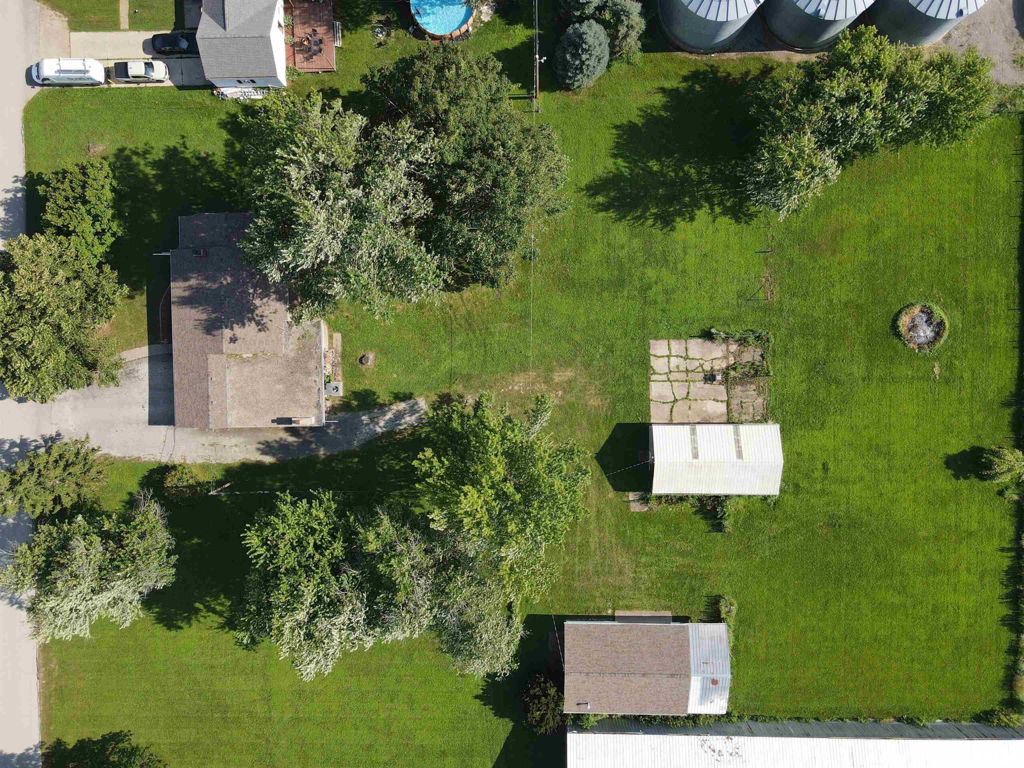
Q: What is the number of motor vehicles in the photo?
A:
3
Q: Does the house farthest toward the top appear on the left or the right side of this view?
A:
left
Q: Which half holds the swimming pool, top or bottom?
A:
top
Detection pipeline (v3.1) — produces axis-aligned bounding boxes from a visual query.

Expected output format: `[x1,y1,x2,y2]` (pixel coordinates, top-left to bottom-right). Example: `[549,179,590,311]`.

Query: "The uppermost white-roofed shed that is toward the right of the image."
[648,424,785,495]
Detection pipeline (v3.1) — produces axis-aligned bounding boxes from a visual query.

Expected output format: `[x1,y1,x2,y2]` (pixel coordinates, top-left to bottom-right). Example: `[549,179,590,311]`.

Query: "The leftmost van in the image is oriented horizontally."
[32,55,103,88]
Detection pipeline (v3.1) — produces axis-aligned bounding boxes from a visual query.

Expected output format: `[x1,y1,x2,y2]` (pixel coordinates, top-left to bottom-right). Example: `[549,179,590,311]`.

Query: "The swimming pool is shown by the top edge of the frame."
[409,0,470,40]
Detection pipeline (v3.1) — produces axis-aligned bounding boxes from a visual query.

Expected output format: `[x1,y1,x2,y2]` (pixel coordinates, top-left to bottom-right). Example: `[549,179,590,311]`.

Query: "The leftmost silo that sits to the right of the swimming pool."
[654,0,762,57]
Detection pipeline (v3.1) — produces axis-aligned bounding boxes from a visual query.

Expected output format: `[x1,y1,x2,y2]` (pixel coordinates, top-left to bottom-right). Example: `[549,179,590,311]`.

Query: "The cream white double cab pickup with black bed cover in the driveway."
[115,56,171,83]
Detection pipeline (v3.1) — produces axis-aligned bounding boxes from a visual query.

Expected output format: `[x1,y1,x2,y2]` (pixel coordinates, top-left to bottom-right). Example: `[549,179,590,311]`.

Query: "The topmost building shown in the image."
[197,0,286,89]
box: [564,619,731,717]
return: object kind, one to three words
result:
building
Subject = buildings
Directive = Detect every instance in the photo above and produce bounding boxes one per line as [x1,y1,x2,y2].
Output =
[648,424,785,495]
[197,0,286,89]
[564,619,731,717]
[170,213,327,428]
[567,718,1024,768]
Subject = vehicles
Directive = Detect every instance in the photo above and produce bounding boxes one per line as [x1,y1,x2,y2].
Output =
[154,29,200,55]
[32,55,103,88]
[115,56,171,83]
